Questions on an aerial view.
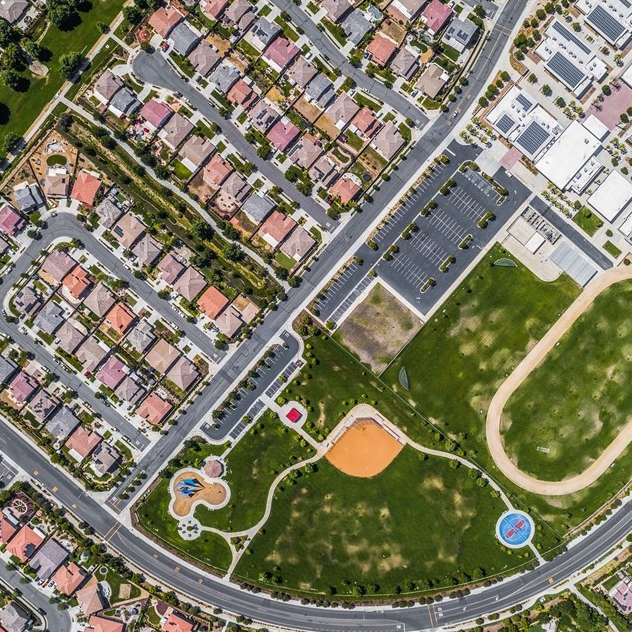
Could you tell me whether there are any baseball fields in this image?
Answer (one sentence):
Yes, the image includes a baseball field.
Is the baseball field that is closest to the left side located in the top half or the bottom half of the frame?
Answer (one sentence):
It is in the bottom half that the baseball field that is closest to the left side appears.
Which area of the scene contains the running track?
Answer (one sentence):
The running track sits in the right section of the image.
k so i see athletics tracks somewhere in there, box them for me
[486,265,632,493]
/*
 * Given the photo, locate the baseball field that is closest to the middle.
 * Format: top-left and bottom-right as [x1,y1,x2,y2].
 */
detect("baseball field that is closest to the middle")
[319,404,410,478]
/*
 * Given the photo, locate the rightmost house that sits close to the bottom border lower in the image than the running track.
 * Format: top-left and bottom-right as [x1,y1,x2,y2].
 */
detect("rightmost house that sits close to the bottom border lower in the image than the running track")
[605,578,632,619]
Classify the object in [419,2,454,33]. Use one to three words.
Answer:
house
